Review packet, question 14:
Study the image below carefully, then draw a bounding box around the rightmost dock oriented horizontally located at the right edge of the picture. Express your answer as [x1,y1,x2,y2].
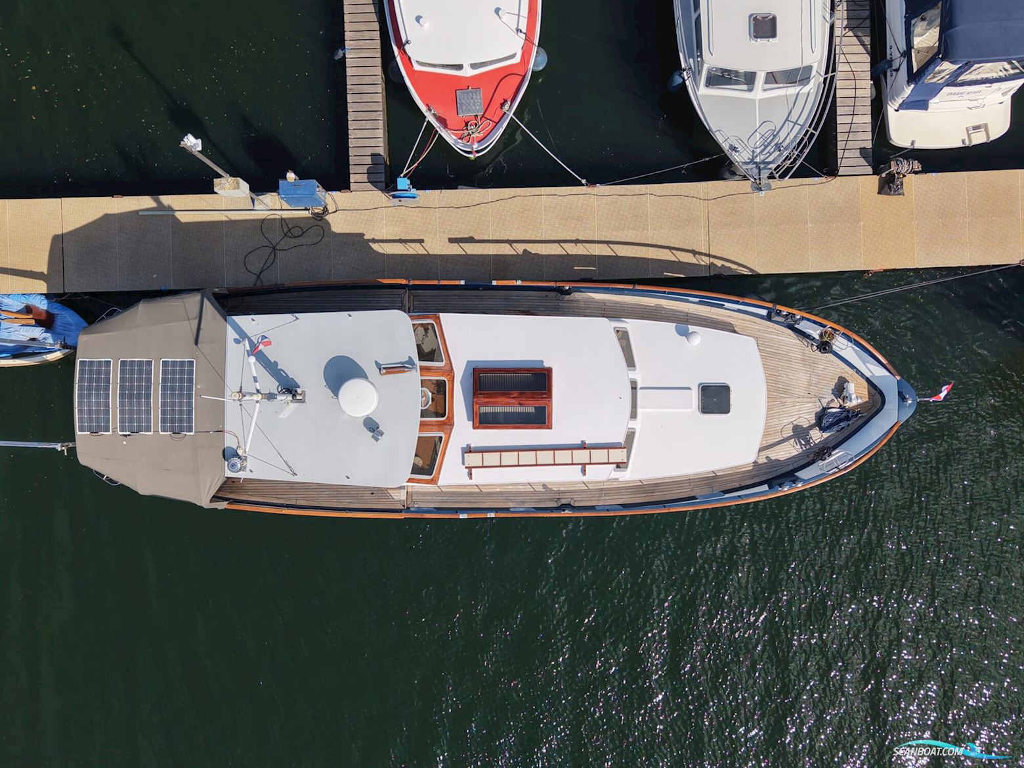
[709,169,1024,277]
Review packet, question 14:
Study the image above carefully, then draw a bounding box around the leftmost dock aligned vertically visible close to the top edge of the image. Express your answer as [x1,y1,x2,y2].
[344,0,395,191]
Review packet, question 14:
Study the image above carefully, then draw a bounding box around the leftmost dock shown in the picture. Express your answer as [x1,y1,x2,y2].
[0,198,70,296]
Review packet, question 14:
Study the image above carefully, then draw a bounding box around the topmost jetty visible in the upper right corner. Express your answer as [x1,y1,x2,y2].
[828,0,873,177]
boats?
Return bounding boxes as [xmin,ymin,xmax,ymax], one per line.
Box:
[0,278,954,517]
[0,290,91,369]
[668,0,846,192]
[876,0,1024,151]
[382,0,545,166]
